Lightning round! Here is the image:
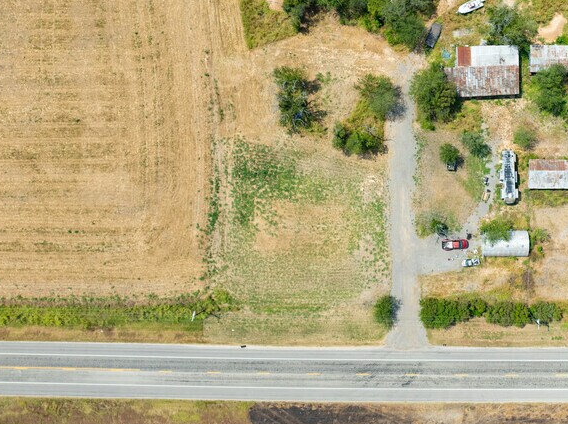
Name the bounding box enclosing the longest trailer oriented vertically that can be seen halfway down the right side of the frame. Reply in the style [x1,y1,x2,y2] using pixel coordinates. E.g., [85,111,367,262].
[499,151,518,203]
